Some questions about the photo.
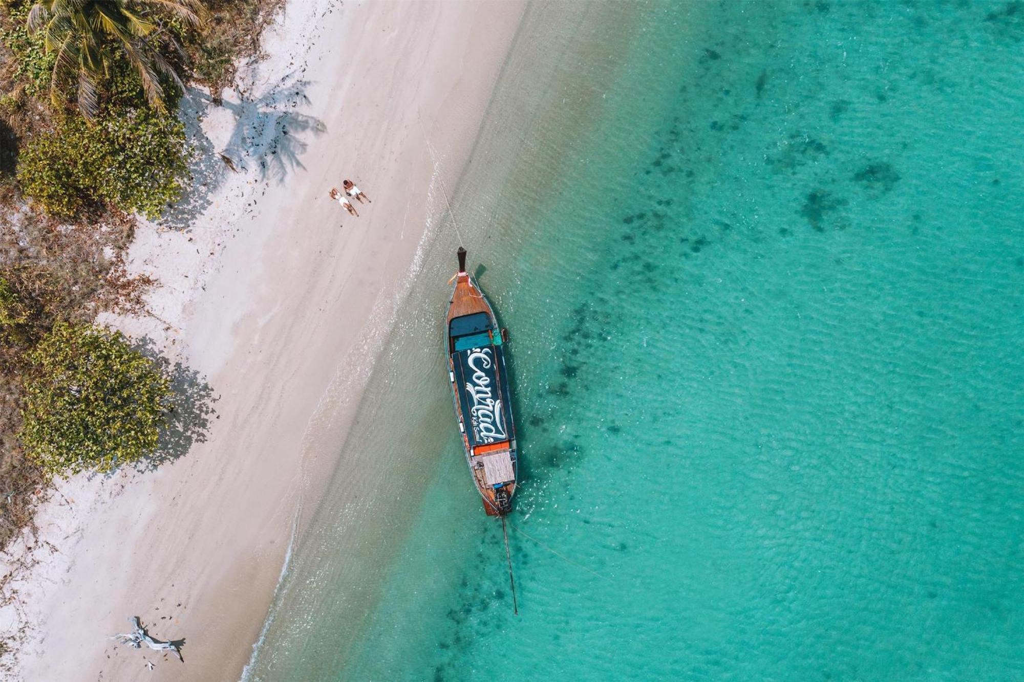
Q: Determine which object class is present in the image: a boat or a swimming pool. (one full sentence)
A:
The image shows a boat.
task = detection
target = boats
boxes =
[443,248,521,614]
